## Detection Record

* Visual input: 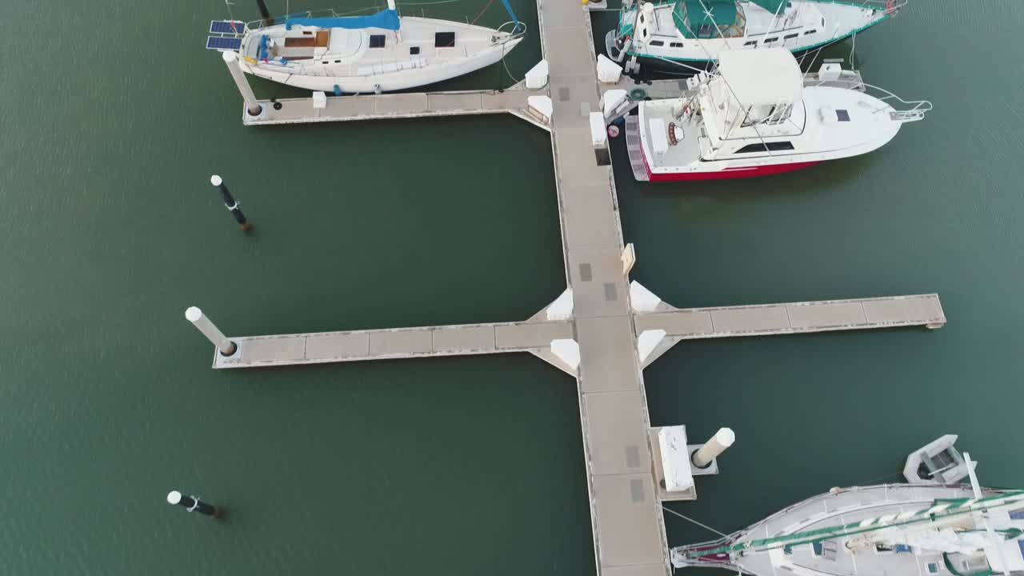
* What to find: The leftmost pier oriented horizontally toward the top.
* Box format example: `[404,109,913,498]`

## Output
[242,67,550,134]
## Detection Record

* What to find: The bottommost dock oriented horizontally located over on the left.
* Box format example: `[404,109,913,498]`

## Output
[212,294,576,382]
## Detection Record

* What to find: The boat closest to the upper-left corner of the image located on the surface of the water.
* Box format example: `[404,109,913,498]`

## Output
[205,0,528,94]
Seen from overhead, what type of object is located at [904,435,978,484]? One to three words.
boat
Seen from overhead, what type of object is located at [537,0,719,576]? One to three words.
pier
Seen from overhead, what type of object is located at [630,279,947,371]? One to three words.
pier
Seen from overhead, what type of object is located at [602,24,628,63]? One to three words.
boat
